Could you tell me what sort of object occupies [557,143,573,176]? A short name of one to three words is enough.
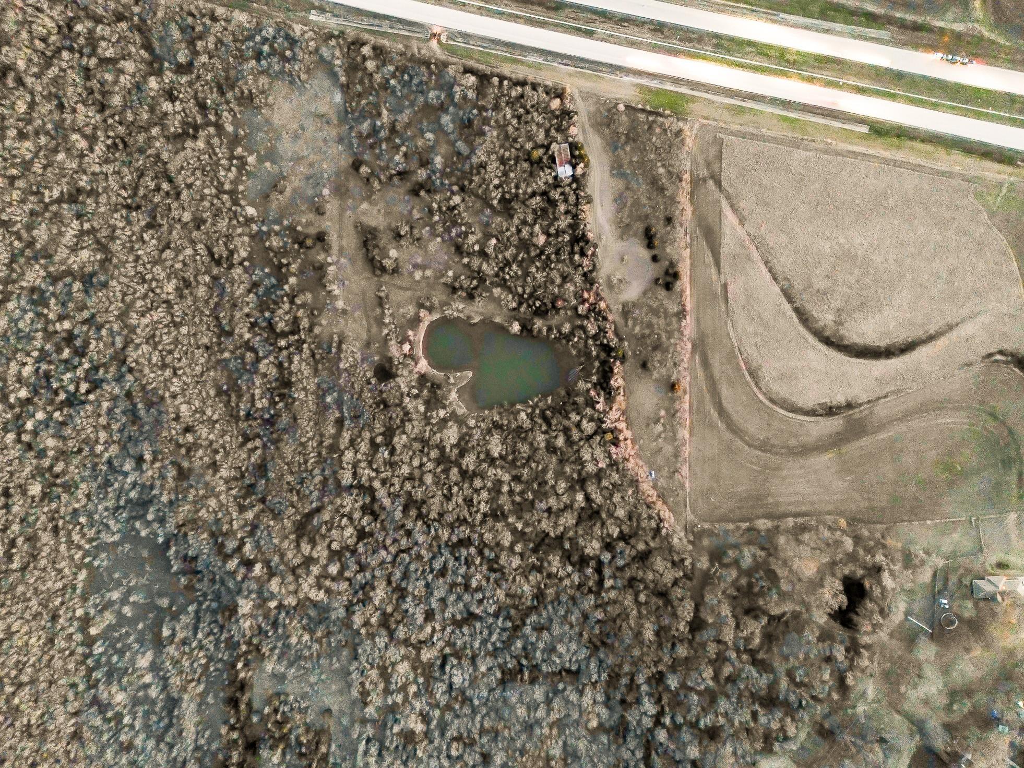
barn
